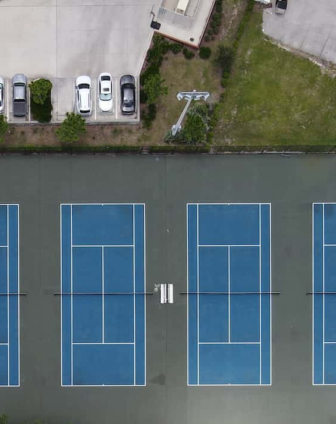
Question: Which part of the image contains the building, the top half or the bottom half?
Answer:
top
